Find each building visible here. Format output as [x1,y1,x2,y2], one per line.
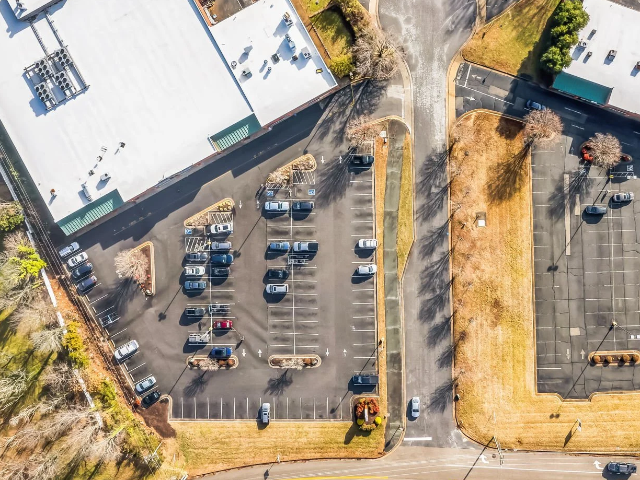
[549,0,640,122]
[0,0,339,236]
